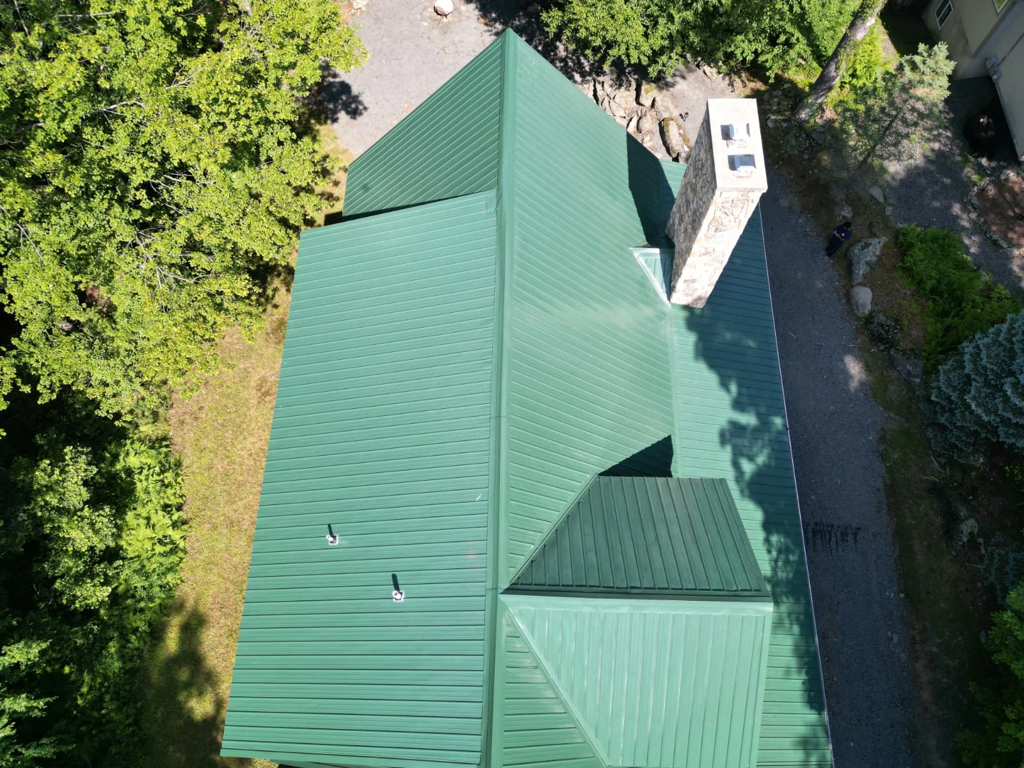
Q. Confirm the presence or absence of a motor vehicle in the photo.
No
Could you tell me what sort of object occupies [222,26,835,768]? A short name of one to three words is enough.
house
